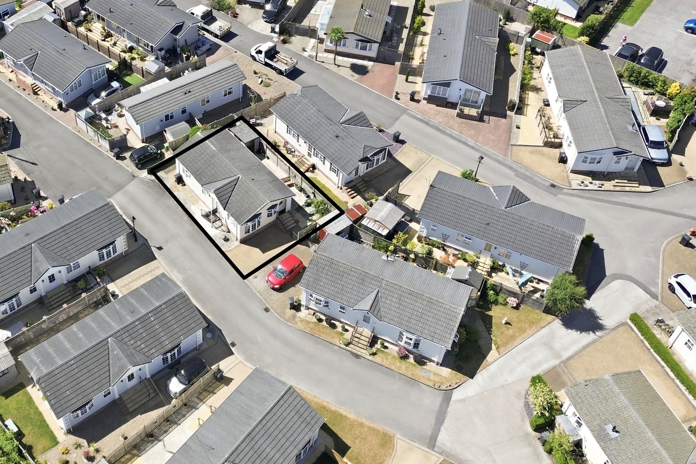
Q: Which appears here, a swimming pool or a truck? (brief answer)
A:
truck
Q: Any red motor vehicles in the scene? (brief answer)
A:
Yes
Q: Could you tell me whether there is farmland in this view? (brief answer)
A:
No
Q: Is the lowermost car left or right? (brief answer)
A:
left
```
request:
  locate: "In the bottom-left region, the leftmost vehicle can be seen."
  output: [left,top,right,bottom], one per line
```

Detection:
[165,355,212,398]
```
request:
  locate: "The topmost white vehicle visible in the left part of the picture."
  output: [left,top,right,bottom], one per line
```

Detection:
[188,2,233,33]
